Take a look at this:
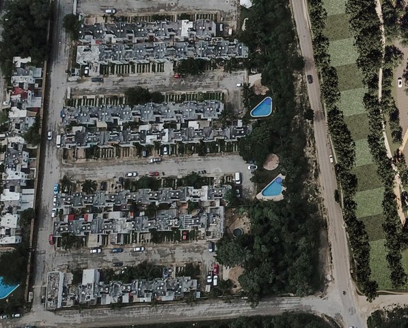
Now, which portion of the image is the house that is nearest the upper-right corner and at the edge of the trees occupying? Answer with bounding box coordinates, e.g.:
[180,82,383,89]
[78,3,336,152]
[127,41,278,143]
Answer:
[225,43,249,61]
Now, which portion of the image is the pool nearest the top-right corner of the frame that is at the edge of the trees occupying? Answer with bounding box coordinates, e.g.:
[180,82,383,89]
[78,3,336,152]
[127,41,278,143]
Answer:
[250,97,272,118]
